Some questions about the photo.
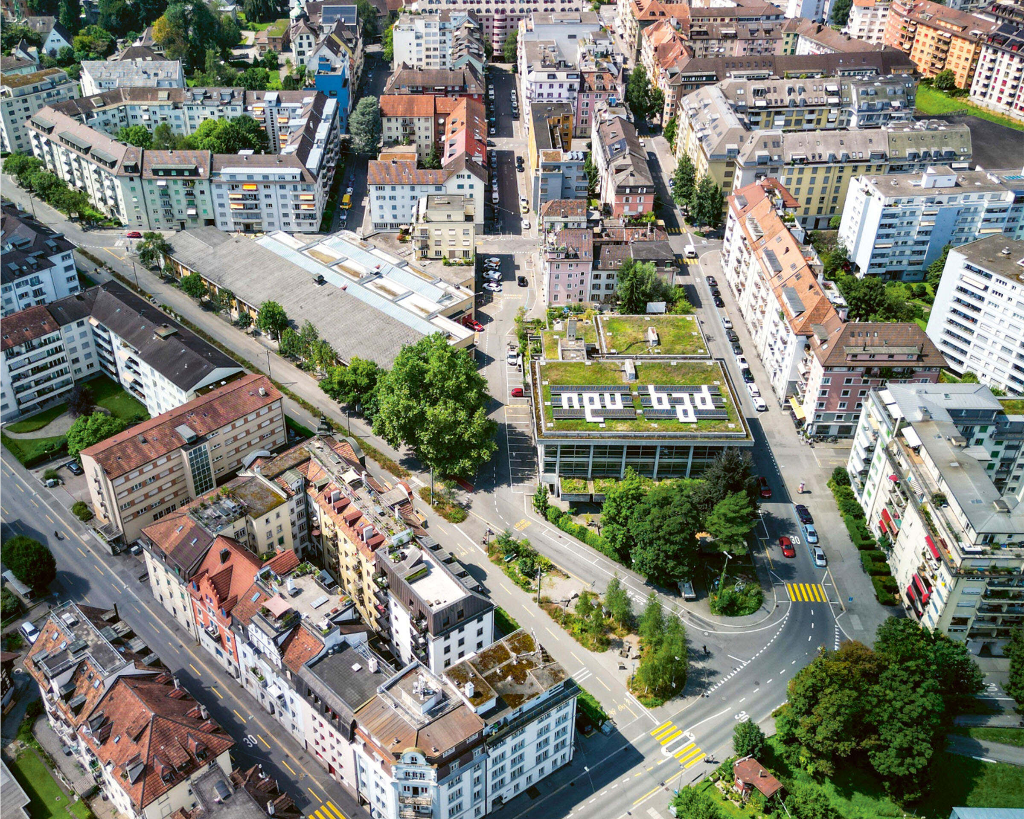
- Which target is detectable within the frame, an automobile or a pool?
automobile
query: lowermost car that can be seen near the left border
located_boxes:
[18,616,40,640]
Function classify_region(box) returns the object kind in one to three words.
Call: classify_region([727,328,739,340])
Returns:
vehicle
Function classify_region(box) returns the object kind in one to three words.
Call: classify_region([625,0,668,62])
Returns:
house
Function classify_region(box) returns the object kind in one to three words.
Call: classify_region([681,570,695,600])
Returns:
vehicle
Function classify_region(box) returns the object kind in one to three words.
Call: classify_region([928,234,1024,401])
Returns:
building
